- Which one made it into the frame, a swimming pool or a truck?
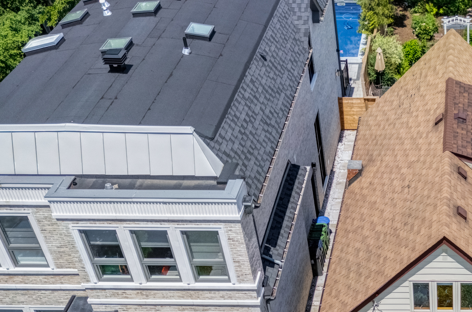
swimming pool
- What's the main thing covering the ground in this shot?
buildings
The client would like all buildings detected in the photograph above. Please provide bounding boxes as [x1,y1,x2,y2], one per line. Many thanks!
[0,0,349,312]
[316,31,472,312]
